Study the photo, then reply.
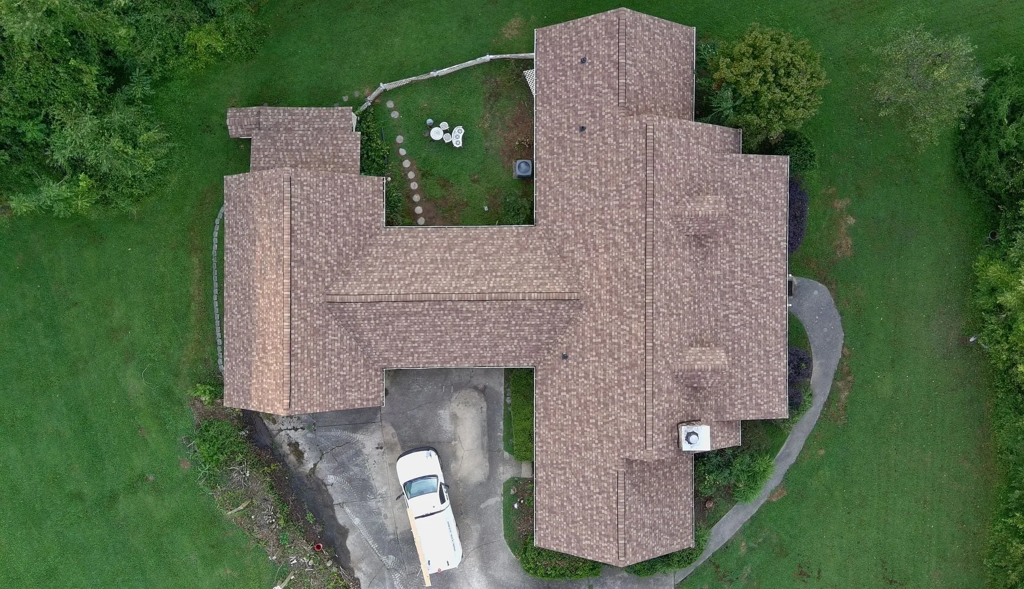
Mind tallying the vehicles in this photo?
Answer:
1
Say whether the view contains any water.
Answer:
No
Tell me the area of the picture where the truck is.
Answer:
bottom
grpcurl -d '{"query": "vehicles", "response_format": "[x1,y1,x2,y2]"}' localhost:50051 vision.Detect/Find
[398,446,464,578]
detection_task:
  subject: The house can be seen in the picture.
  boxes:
[223,8,789,566]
